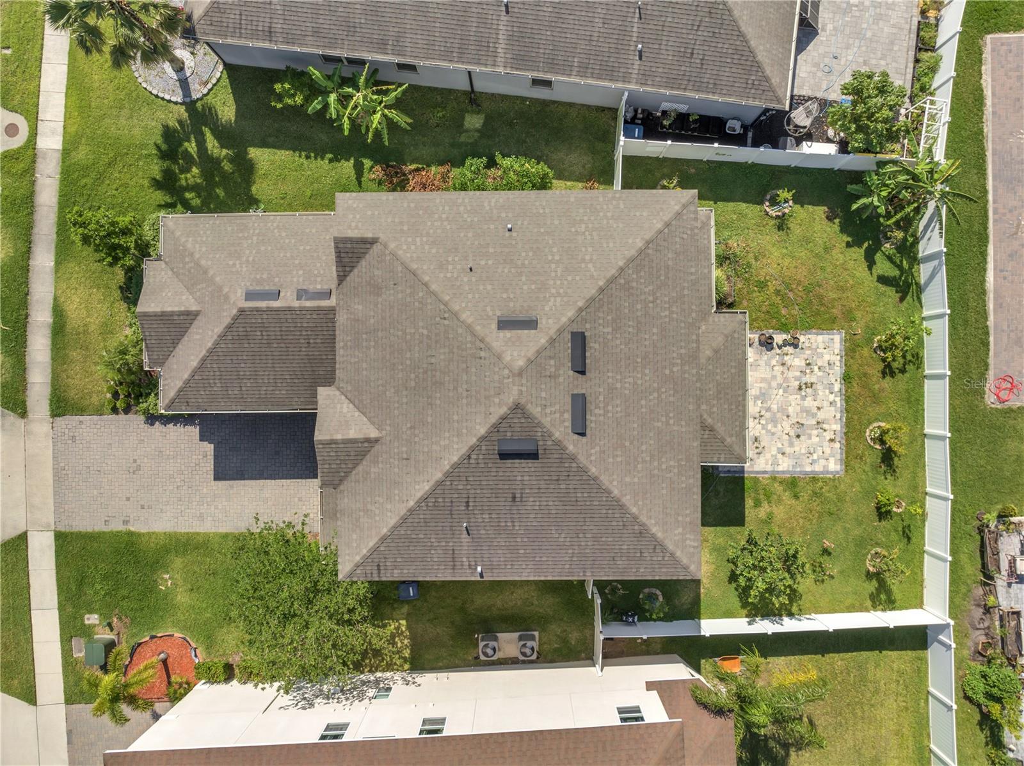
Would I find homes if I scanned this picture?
Yes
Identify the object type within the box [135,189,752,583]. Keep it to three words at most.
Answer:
house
